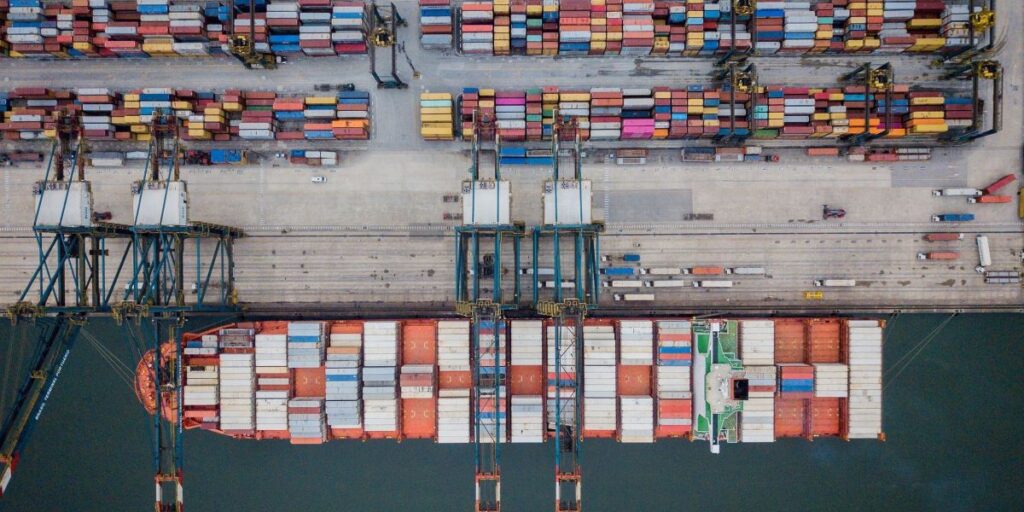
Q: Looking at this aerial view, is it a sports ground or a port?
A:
port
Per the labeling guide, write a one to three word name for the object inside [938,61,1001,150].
container crane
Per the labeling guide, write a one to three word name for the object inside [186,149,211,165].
work vehicle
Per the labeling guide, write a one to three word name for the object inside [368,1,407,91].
container crane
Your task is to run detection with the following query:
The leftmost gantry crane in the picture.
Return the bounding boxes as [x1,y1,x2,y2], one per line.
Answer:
[0,116,171,497]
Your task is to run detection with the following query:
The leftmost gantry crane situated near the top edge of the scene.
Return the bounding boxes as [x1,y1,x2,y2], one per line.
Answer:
[227,0,275,70]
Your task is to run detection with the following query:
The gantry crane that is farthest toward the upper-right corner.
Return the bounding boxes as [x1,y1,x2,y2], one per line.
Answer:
[934,0,997,70]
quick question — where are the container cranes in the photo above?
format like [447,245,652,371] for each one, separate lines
[0,116,171,497]
[368,1,407,91]
[112,116,257,512]
[938,61,1001,150]
[522,116,612,512]
[454,116,532,512]
[712,64,758,150]
[227,0,275,70]
[934,0,997,70]
[837,64,893,150]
